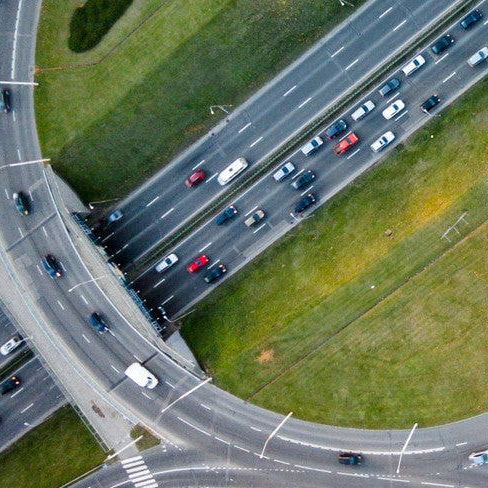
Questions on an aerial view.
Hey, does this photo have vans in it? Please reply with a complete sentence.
Yes, a van appears in the view.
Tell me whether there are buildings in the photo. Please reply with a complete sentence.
No, no building can be seen from above.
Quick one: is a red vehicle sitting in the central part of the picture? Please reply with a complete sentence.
Yes, there is a red vehicle in the central part of the picture.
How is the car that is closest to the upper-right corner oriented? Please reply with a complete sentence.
The car that is closest to the upper-right corner has been laid out at an angle relative to the frame.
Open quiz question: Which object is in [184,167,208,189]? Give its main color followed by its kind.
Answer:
red car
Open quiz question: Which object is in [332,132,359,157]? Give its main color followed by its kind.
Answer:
red truck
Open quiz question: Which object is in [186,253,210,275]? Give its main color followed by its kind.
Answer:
red car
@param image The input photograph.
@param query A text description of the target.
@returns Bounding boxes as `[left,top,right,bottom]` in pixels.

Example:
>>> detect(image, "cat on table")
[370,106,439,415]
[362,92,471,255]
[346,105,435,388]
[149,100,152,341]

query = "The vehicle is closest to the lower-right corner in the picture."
[468,448,488,465]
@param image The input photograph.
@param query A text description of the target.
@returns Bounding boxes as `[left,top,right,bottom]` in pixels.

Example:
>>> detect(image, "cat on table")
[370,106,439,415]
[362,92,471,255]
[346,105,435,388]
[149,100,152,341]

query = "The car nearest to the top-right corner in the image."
[458,9,484,31]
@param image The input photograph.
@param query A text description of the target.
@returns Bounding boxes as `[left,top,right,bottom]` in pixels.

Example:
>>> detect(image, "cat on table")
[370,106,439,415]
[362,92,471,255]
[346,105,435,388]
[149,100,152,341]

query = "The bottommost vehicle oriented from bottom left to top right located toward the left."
[0,373,24,396]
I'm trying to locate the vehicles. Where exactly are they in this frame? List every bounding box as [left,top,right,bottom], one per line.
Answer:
[468,448,488,465]
[466,45,488,68]
[184,167,208,189]
[0,373,24,396]
[401,54,426,77]
[417,92,444,114]
[431,33,455,54]
[102,208,127,229]
[0,85,12,113]
[458,9,484,31]
[370,129,395,153]
[382,98,407,121]
[299,135,325,158]
[350,100,376,122]
[336,450,364,466]
[292,169,316,191]
[0,334,24,356]
[124,362,158,387]
[242,207,268,230]
[378,76,402,98]
[324,119,348,141]
[203,262,227,284]
[216,157,250,186]
[332,132,359,157]
[293,191,318,215]
[186,253,210,275]
[270,161,294,184]
[13,190,33,218]
[155,251,181,274]
[154,301,172,319]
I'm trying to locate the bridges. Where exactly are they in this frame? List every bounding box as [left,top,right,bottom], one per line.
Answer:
[0,151,217,453]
